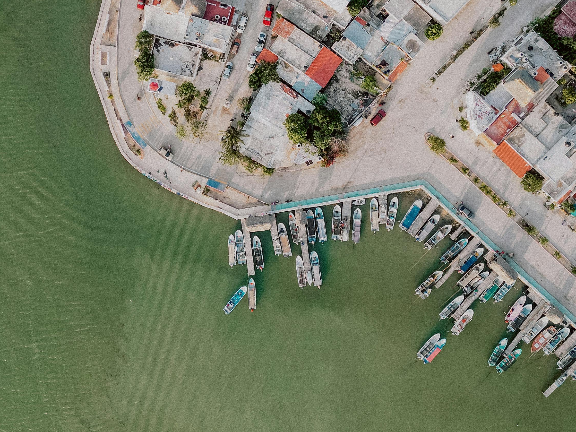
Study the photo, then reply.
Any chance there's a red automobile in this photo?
Yes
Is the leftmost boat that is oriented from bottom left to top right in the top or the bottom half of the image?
bottom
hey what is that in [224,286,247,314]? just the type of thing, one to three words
boat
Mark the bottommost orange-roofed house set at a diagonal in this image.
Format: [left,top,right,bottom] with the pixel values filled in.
[491,141,532,177]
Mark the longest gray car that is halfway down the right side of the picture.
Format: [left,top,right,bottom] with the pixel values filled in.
[456,203,474,220]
